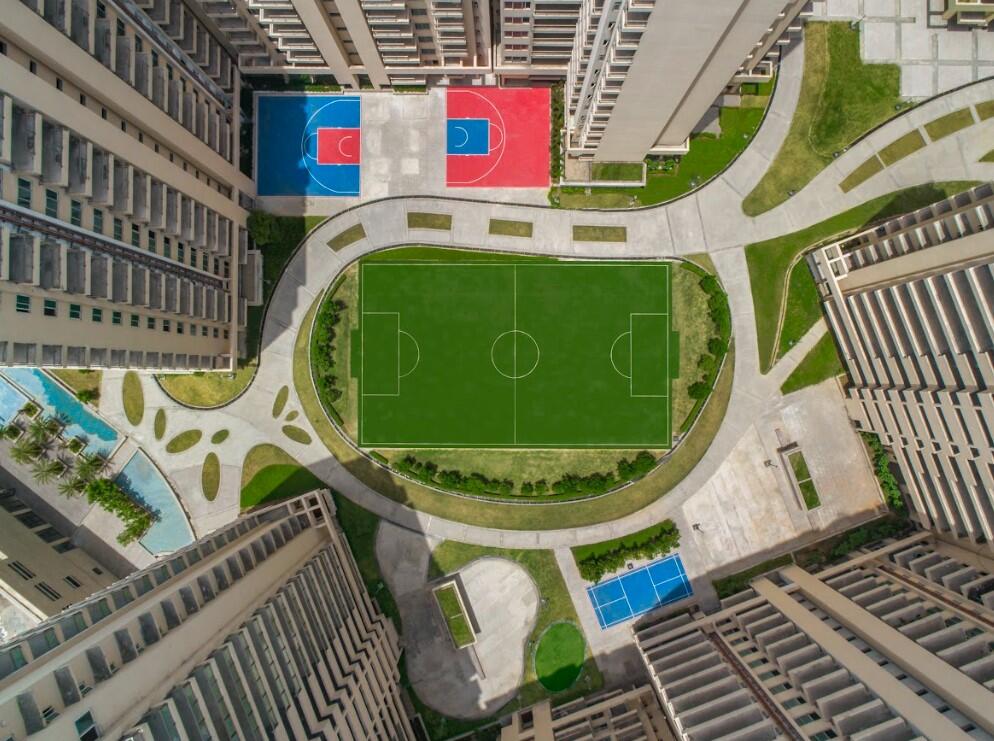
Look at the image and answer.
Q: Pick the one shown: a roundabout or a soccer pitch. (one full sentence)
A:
The image shows a soccer pitch.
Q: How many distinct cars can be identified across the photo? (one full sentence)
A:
The picture shows no cars.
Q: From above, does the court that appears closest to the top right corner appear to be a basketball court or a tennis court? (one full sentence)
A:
In the photo, the court that appears closest to the top right corner shows up as a basketball court.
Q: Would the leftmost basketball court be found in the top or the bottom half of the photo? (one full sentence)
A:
Seen from above, the leftmost basketball court lies in the top half of the view.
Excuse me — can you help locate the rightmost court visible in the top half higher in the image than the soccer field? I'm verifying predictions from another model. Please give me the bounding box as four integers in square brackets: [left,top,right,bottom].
[445,85,552,188]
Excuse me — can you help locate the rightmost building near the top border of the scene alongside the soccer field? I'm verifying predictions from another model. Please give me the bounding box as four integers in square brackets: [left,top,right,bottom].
[559,0,817,188]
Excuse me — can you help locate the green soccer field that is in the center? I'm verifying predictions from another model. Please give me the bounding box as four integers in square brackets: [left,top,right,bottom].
[349,262,679,452]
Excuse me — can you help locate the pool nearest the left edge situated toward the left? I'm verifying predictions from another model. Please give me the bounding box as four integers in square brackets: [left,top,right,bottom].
[0,375,29,426]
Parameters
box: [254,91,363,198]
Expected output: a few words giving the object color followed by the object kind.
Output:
blue basketball court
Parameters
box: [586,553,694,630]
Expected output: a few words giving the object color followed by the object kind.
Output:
blue sports court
